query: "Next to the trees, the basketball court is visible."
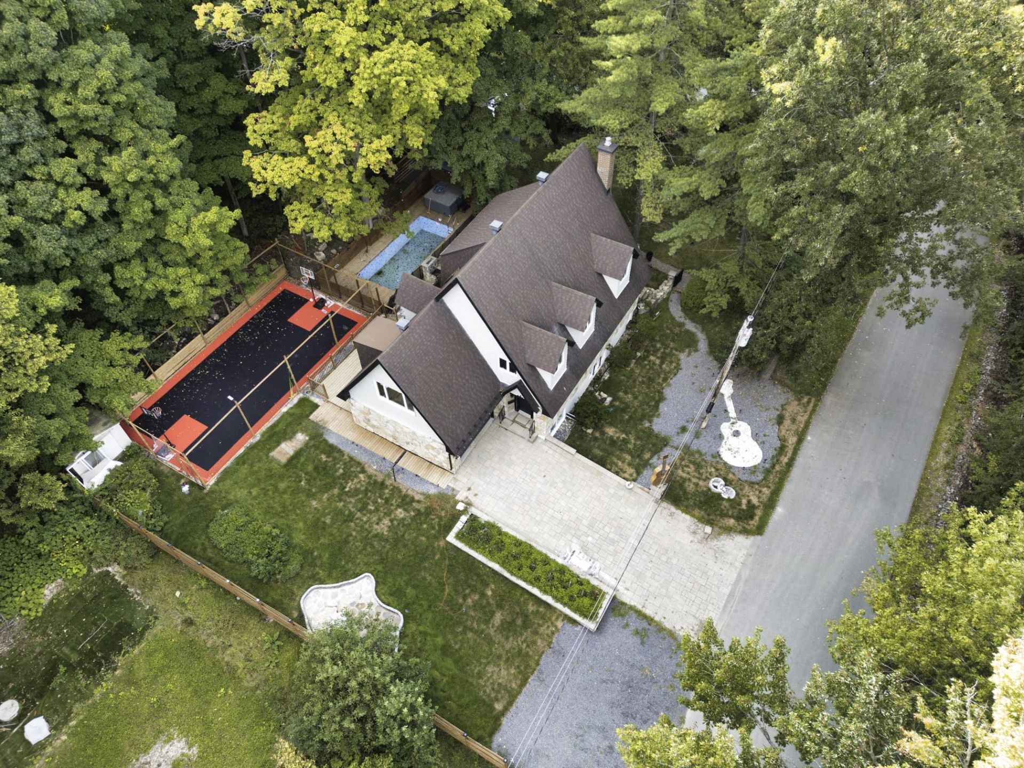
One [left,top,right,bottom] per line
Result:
[110,278,368,484]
